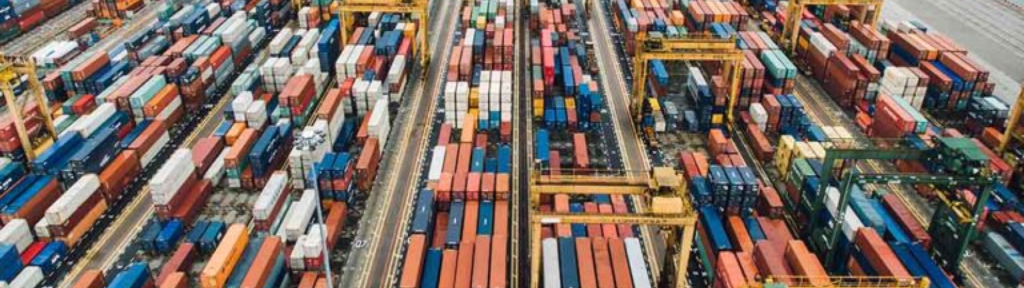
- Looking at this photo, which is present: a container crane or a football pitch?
container crane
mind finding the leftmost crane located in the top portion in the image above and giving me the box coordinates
[0,53,60,150]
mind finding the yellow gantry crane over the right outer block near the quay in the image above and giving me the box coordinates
[780,0,886,63]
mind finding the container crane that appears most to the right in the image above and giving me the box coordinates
[1002,95,1024,193]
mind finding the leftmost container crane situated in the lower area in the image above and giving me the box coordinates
[529,166,694,288]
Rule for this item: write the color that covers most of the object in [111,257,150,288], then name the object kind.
blue shipping container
